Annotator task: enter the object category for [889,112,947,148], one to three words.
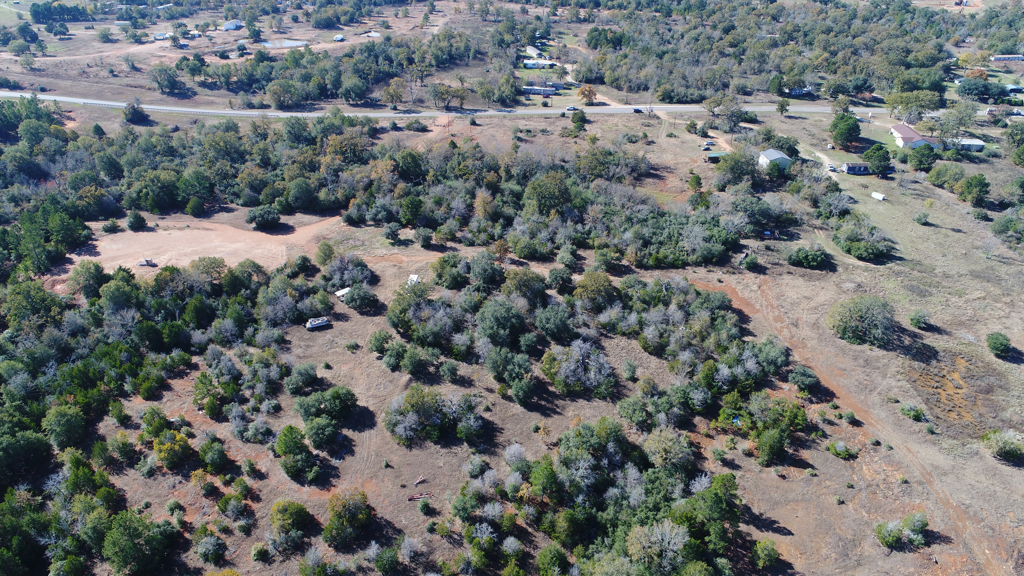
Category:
building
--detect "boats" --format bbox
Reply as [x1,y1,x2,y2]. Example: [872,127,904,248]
[301,313,335,326]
